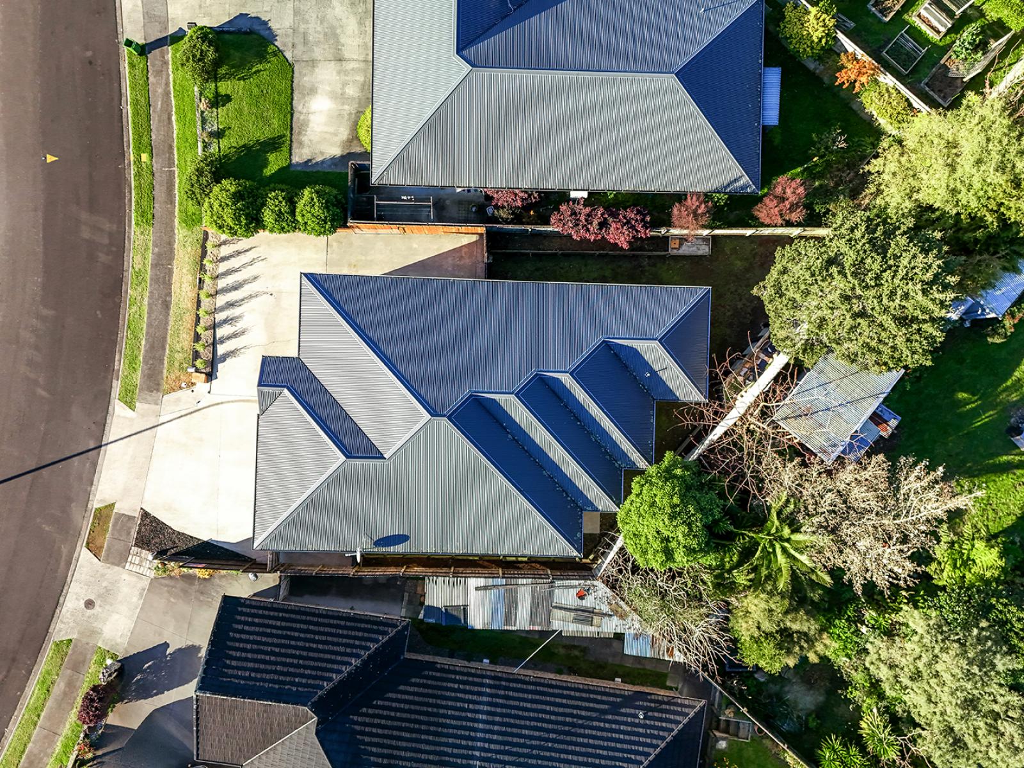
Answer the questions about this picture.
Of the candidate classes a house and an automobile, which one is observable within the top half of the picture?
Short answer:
house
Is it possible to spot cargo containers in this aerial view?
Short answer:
No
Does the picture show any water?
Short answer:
No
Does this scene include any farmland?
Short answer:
No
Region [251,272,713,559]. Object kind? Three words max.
house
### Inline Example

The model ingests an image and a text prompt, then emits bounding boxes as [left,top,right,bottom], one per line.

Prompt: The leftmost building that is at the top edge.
[368,0,768,196]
